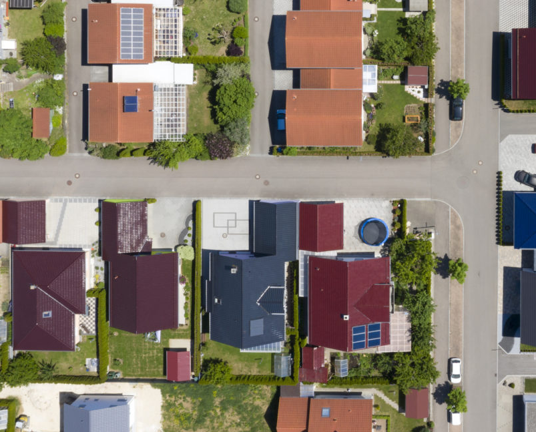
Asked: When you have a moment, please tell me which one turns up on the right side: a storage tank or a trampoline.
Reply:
trampoline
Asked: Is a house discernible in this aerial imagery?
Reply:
Yes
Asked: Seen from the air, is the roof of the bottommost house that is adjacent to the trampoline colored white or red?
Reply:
red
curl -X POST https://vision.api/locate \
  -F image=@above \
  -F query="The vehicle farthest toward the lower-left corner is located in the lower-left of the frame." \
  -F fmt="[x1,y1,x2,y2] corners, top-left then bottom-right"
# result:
[14,407,28,432]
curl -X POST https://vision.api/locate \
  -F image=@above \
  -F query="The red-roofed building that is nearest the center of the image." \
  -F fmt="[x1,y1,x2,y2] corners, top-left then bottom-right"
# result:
[299,201,343,253]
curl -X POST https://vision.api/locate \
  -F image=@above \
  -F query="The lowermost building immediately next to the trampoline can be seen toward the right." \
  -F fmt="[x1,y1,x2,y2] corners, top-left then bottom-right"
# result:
[309,253,391,353]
